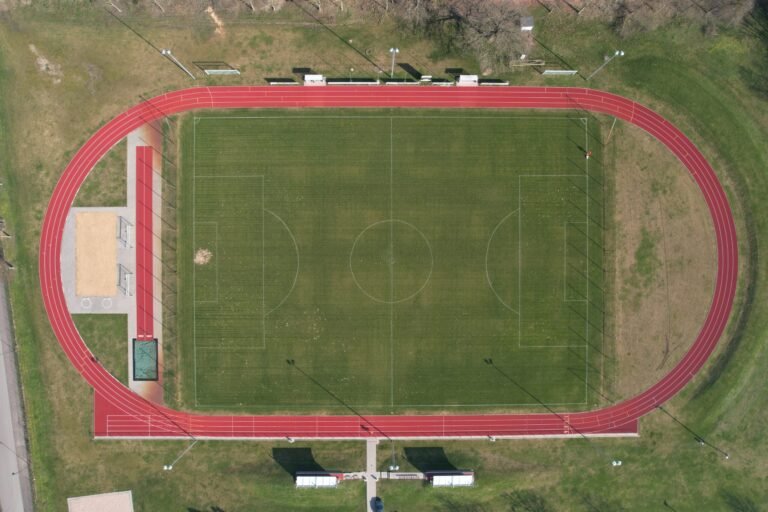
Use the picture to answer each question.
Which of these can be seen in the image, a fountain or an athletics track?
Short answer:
athletics track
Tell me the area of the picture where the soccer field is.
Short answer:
center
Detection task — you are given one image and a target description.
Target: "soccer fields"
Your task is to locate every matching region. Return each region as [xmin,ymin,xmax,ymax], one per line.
[182,109,604,412]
